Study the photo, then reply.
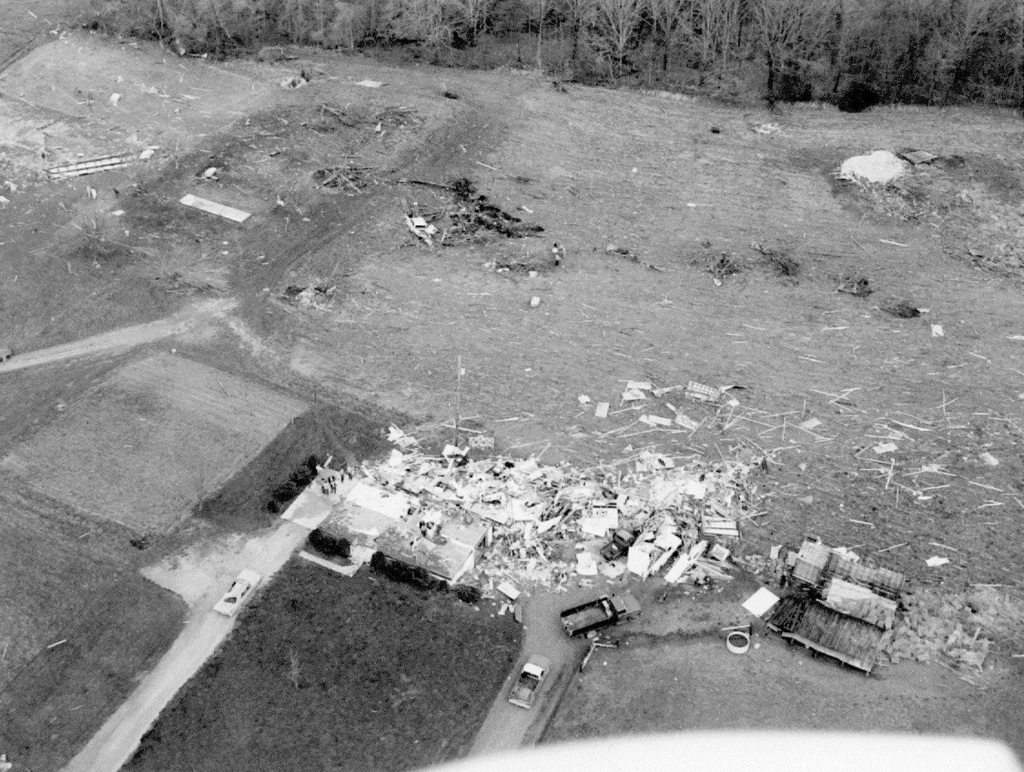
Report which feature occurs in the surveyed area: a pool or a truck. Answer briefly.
truck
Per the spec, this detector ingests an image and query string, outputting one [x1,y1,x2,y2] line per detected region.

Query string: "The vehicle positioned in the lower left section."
[211,567,264,620]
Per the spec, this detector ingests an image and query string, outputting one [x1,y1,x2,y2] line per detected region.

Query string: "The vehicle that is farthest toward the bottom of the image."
[509,652,553,710]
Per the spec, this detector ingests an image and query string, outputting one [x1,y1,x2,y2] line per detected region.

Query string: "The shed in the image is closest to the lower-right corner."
[767,594,888,678]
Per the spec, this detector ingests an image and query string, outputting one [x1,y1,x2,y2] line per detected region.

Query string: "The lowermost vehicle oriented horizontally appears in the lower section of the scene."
[558,593,645,640]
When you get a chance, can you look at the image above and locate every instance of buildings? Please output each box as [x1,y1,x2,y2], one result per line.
[792,534,833,583]
[767,594,888,678]
[311,472,504,596]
